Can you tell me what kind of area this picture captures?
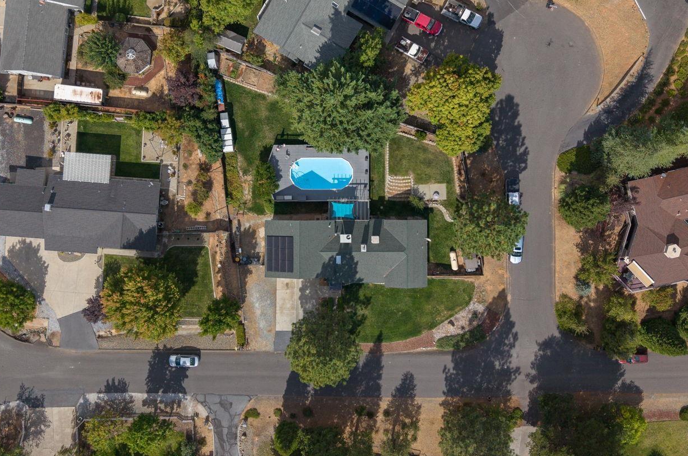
residential area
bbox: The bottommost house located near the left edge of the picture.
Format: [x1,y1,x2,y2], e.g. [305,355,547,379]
[0,169,161,254]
